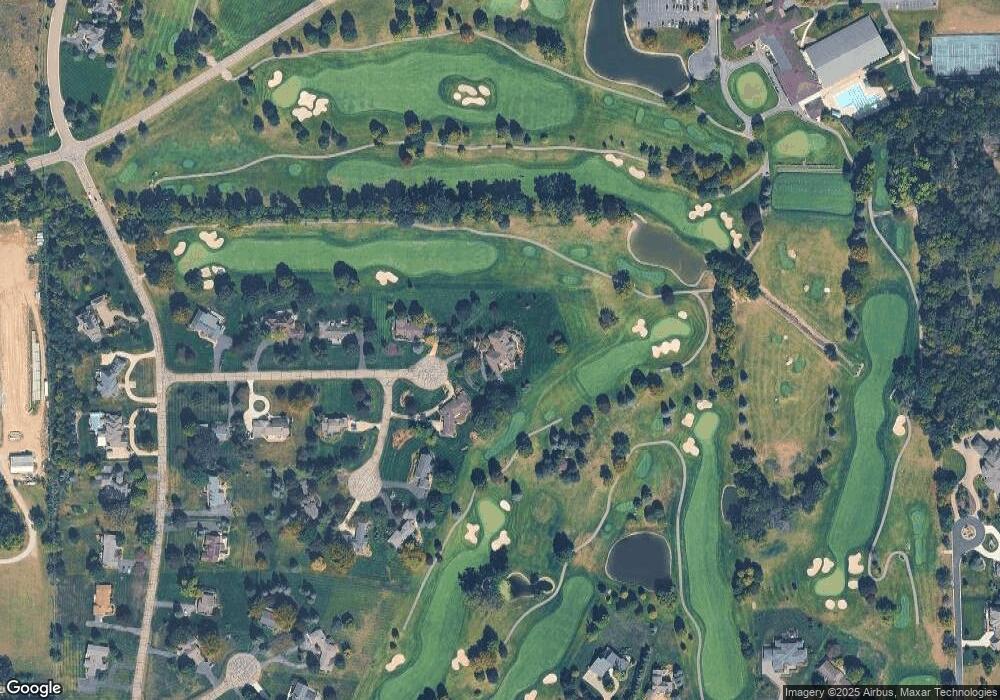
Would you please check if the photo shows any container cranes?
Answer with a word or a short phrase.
No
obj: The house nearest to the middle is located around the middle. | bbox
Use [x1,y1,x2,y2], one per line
[481,328,520,373]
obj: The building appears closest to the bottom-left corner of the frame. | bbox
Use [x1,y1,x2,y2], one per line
[82,644,110,678]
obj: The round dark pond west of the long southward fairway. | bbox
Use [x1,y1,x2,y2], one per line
[606,532,671,590]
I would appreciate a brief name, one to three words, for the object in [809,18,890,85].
building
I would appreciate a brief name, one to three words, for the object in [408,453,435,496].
house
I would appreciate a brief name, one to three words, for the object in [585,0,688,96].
pond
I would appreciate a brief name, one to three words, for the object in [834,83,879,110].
swimming pool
